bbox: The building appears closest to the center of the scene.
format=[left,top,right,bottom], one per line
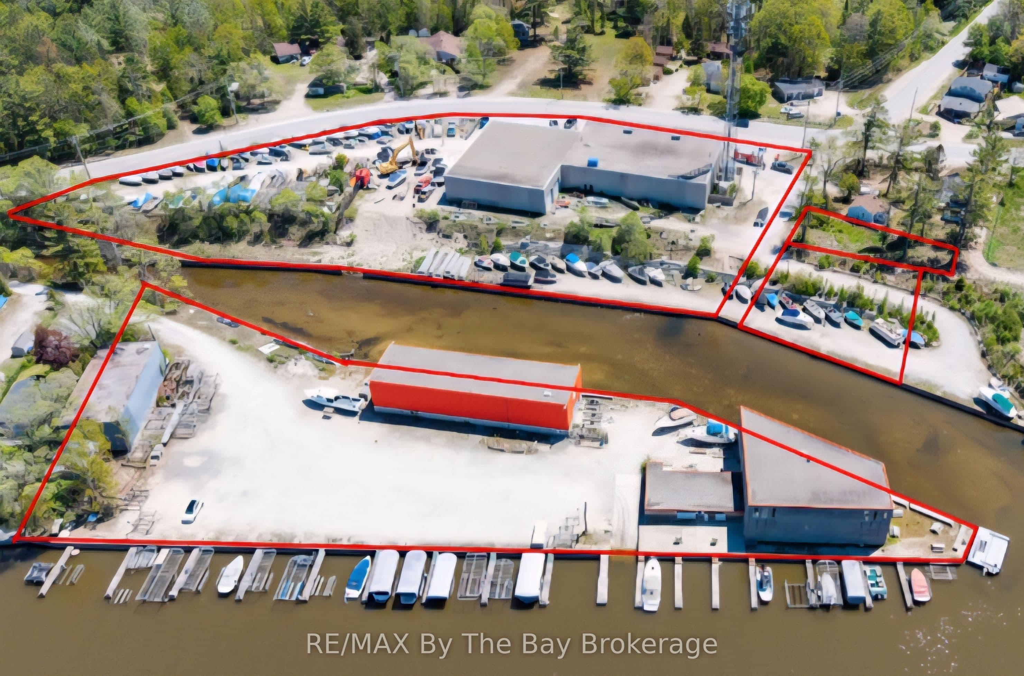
[366,341,587,436]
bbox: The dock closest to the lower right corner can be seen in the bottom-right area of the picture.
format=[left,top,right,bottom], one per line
[897,566,915,609]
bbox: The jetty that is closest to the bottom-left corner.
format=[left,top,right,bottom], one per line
[38,548,74,596]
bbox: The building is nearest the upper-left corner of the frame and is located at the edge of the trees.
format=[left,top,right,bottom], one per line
[274,38,300,64]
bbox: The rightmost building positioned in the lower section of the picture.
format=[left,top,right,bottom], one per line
[739,405,893,550]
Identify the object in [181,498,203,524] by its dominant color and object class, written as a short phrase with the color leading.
white car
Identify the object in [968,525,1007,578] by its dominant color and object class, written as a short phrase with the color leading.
white boat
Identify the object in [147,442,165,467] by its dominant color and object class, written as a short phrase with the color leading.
white vehicle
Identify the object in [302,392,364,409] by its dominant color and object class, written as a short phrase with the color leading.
white boat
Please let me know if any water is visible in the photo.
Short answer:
Yes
